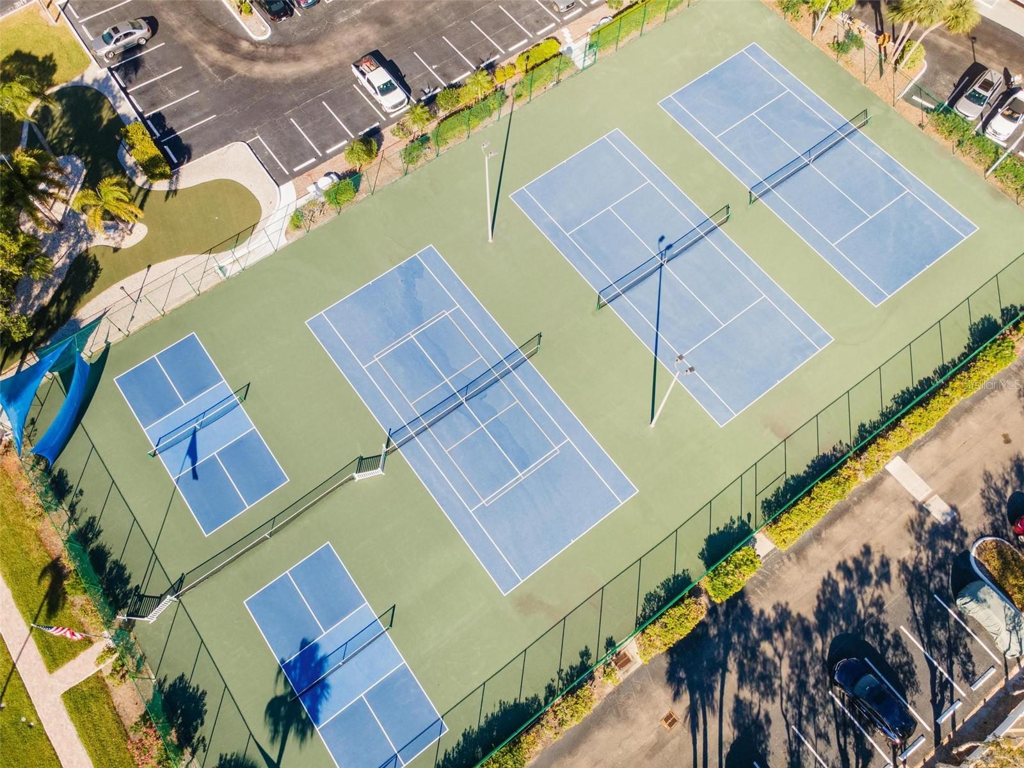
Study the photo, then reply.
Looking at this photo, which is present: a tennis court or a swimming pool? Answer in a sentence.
I can see a tennis court in this picture.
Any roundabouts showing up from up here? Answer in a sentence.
No, the scene contains no roundabout.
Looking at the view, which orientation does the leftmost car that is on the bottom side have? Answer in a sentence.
The leftmost car that is on the bottom side runs on a diagonal in the image.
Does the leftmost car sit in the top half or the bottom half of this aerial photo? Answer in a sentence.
You can find the leftmost car in the top half.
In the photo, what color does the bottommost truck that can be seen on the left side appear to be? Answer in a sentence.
The color of the bottommost truck that can be seen on the left side is white.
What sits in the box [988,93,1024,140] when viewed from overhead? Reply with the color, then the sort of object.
white car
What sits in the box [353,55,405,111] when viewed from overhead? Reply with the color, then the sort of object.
white truck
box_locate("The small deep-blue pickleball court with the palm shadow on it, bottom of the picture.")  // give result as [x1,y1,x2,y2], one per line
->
[243,543,449,768]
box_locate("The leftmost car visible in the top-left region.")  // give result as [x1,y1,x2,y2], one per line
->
[92,20,152,57]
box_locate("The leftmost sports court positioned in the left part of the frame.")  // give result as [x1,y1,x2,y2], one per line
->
[114,333,289,535]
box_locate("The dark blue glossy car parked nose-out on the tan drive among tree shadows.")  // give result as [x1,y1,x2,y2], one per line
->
[834,661,918,744]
